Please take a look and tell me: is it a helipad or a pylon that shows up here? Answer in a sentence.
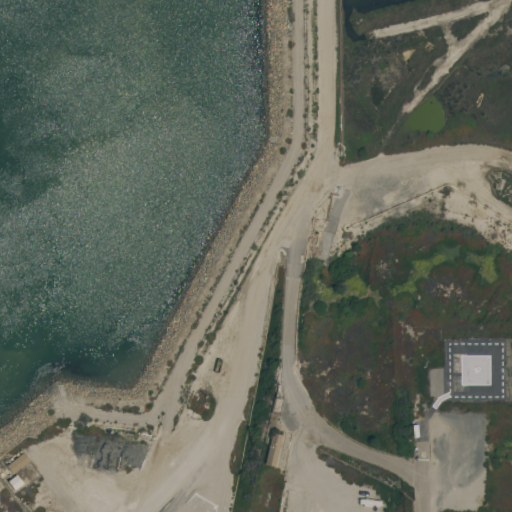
The one in the frame is a helipad.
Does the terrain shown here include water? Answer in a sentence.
Yes, some water is visible.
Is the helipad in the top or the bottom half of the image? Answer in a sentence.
The helipad is in the bottom half of the image.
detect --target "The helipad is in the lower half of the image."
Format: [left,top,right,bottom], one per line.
[444,340,506,400]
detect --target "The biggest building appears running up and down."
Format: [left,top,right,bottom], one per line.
[266,434,284,468]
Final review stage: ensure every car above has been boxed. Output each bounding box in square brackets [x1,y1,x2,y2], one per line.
[6,456,15,464]
[359,491,369,496]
